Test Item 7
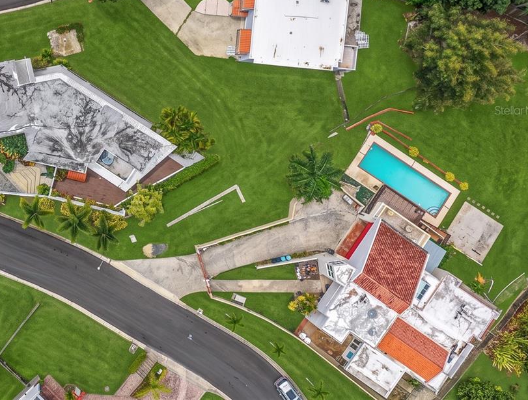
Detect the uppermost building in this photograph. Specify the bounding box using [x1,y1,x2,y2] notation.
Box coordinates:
[227,0,358,70]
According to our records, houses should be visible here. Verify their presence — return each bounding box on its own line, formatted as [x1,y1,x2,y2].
[17,372,43,400]
[227,0,358,70]
[305,204,504,399]
[0,58,178,193]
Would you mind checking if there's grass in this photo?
Yes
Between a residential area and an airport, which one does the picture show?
residential area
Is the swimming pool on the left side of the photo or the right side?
right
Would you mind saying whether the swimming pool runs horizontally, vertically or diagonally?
diagonally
